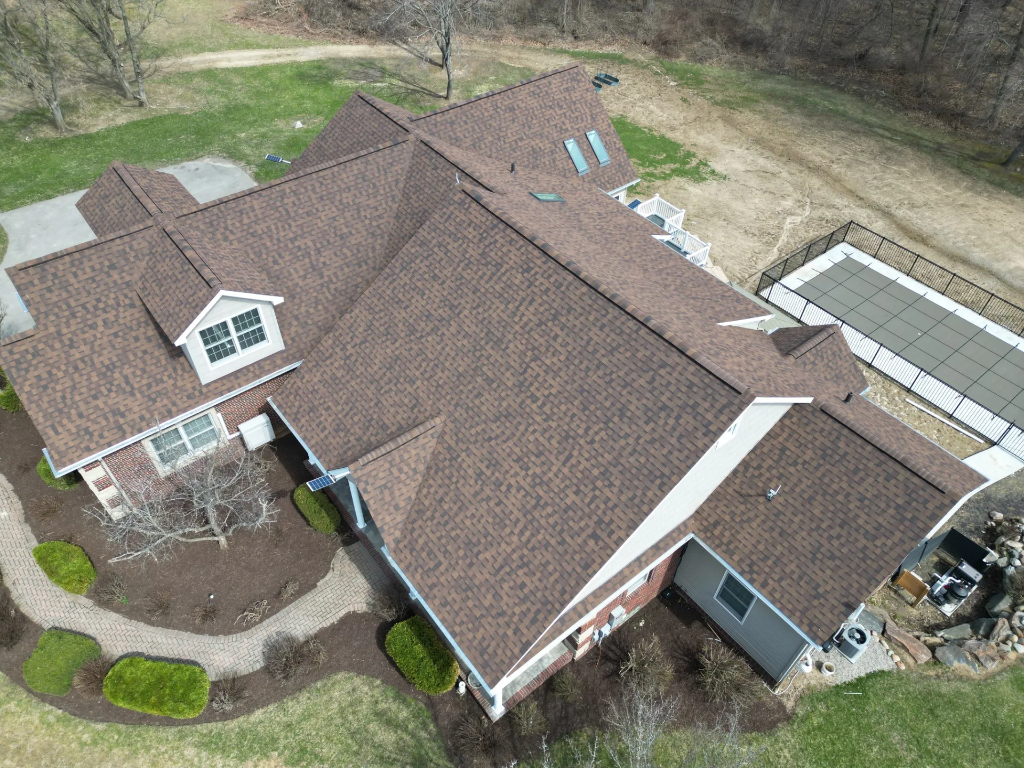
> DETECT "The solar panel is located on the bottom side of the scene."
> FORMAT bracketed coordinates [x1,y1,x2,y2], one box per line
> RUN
[309,475,333,491]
